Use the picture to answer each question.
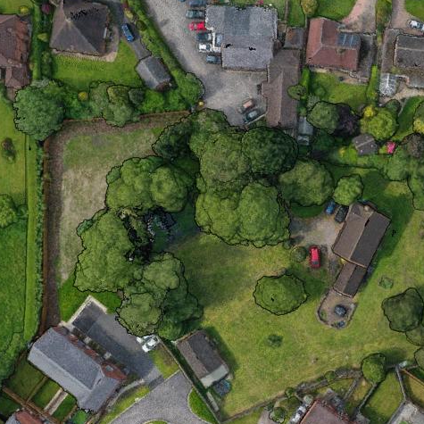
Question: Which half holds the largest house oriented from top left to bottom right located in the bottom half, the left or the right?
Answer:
left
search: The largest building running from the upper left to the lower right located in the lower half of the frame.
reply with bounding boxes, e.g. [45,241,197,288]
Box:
[26,325,139,417]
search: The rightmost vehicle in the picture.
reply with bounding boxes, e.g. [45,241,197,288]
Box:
[407,17,424,30]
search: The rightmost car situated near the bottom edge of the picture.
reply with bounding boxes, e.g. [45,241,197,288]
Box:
[292,403,309,424]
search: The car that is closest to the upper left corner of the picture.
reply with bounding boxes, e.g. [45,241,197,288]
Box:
[120,21,136,43]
